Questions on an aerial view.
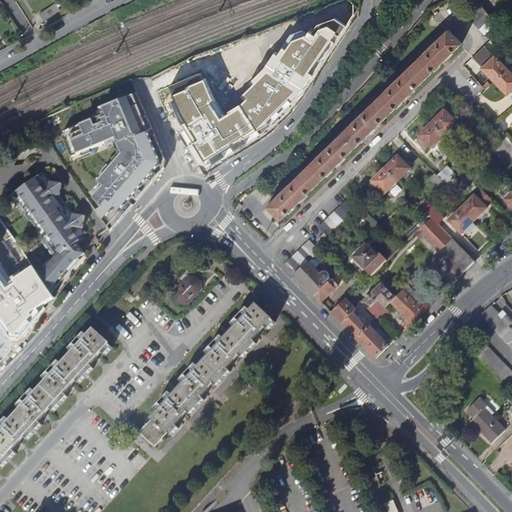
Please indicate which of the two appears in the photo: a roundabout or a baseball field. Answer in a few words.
roundabout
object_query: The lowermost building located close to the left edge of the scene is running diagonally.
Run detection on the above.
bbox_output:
[0,326,112,459]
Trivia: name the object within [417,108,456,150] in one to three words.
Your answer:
house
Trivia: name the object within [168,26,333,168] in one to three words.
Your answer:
building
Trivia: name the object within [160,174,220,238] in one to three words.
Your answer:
roundabout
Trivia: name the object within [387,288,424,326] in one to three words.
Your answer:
house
